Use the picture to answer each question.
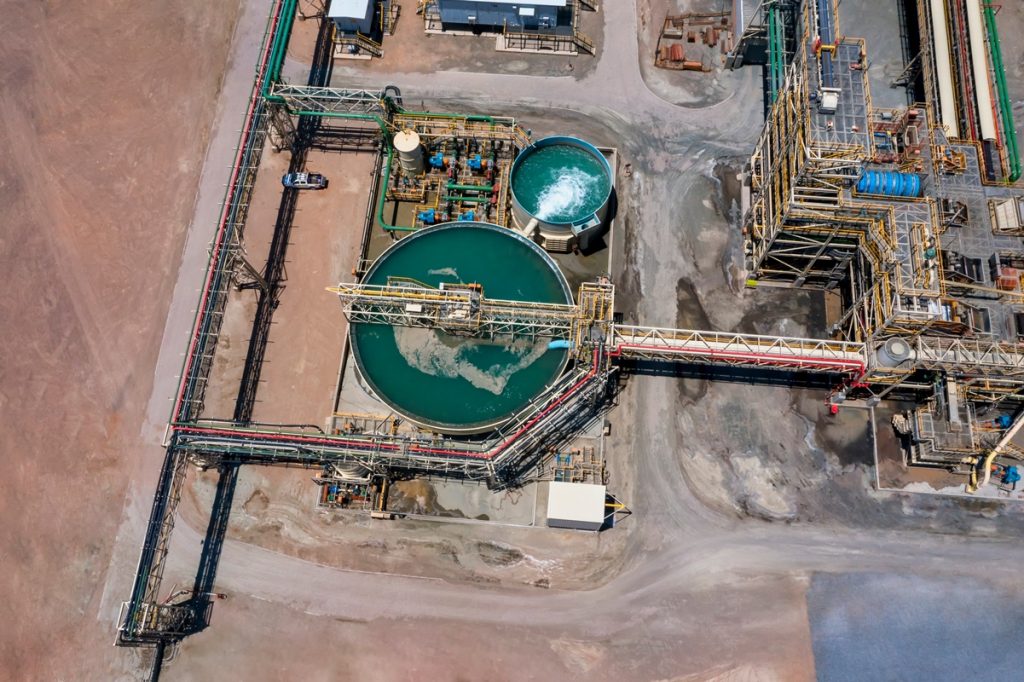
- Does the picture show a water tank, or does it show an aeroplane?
water tank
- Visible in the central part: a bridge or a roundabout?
bridge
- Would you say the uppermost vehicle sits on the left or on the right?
left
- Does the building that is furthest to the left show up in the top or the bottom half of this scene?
top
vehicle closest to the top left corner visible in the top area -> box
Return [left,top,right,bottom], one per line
[281,170,326,190]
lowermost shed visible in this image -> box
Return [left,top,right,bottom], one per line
[542,481,625,536]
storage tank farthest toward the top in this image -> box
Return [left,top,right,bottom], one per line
[395,130,426,180]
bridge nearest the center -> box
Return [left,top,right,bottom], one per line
[324,274,577,341]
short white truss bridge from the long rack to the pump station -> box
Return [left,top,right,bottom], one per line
[271,85,404,163]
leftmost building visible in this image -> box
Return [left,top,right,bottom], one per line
[326,0,381,60]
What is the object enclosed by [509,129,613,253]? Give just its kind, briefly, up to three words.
water tank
